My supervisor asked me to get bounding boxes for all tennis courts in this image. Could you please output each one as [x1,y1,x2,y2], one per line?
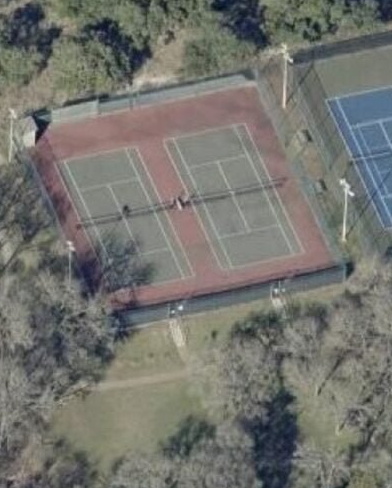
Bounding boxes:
[327,87,392,229]
[55,146,194,293]
[164,122,304,269]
